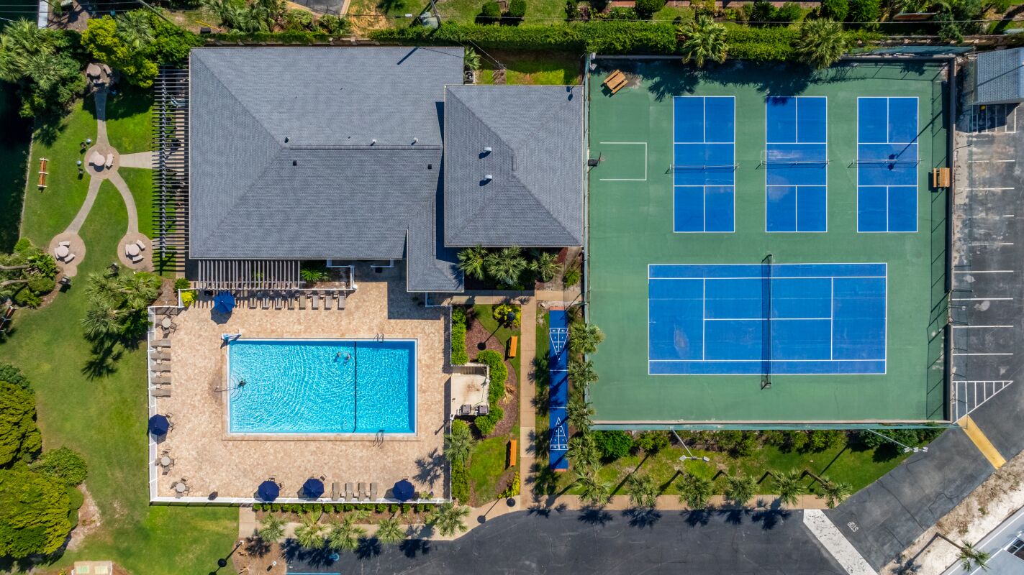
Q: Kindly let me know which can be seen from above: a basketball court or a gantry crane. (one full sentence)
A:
The one in the frame is a basketball court.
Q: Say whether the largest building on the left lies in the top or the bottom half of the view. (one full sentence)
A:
The largest building on the left is in the top half of the image.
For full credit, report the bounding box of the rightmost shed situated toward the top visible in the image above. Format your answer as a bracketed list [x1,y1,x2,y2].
[959,48,1024,108]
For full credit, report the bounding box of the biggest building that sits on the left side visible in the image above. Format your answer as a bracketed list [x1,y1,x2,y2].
[188,46,585,293]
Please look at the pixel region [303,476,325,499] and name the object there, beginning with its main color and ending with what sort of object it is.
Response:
blue umbrella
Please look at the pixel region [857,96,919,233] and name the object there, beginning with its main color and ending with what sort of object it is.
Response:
blue sports court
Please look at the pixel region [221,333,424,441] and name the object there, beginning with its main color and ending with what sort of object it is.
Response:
blue swimming pool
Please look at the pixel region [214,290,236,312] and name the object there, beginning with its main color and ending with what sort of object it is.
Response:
blue umbrella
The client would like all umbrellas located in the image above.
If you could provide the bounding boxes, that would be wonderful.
[303,476,325,499]
[258,479,281,502]
[393,479,415,501]
[149,413,173,436]
[214,290,236,312]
